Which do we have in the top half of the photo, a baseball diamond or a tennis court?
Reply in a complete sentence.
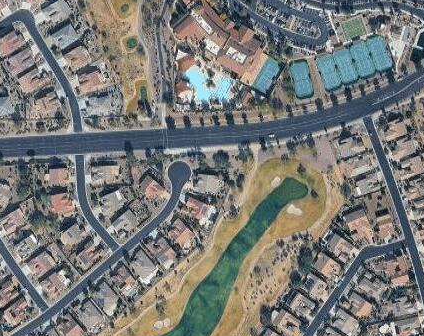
Looking in the top half of the photo, you will find a tennis court.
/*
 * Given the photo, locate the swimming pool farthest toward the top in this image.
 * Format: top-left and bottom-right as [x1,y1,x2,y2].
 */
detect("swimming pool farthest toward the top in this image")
[183,65,235,102]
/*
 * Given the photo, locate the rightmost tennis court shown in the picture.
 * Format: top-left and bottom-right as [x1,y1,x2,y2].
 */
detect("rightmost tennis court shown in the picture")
[368,34,393,70]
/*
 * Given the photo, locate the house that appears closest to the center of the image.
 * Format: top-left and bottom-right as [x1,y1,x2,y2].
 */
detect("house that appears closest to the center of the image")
[198,167,221,196]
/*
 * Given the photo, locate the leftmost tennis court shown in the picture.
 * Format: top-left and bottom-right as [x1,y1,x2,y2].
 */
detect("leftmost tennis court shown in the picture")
[254,59,281,93]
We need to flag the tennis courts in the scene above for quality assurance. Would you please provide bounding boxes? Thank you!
[254,59,281,93]
[290,59,314,98]
[318,54,342,90]
[368,34,393,70]
[351,41,375,77]
[334,49,359,85]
